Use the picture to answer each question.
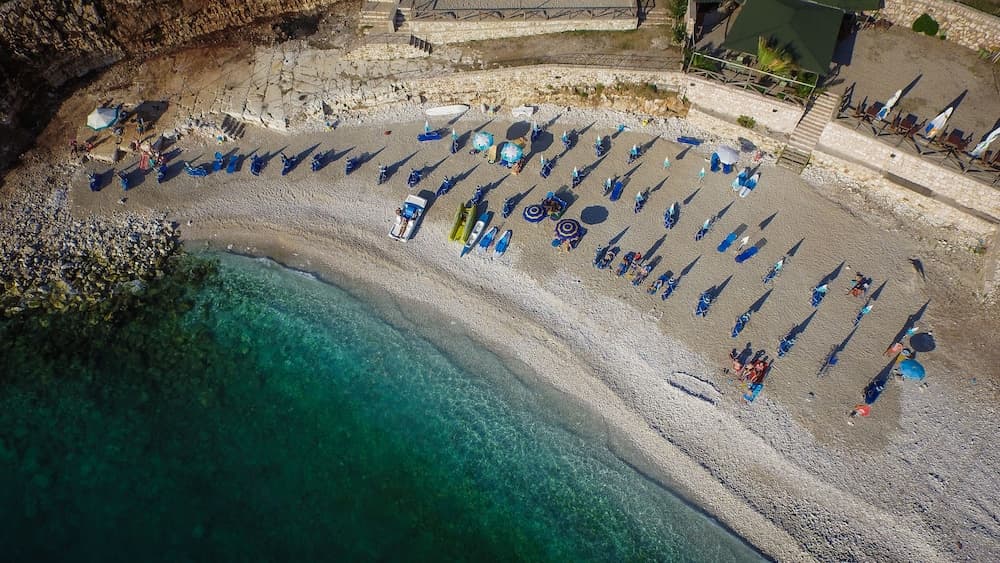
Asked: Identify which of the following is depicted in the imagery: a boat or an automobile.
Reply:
boat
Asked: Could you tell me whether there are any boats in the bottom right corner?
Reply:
No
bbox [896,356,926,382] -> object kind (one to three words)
umbrella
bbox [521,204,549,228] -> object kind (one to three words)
umbrella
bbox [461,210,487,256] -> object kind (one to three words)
boat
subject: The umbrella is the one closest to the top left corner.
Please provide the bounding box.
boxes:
[85,107,125,141]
